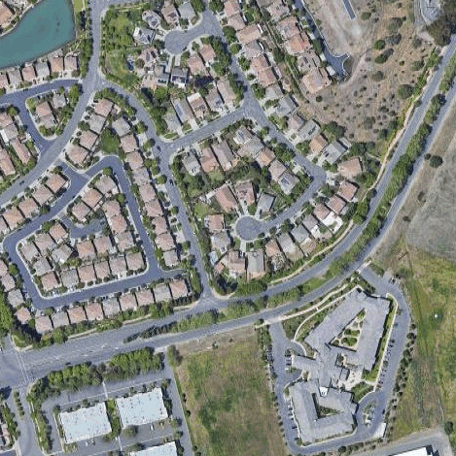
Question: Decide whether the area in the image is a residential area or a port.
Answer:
residential area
